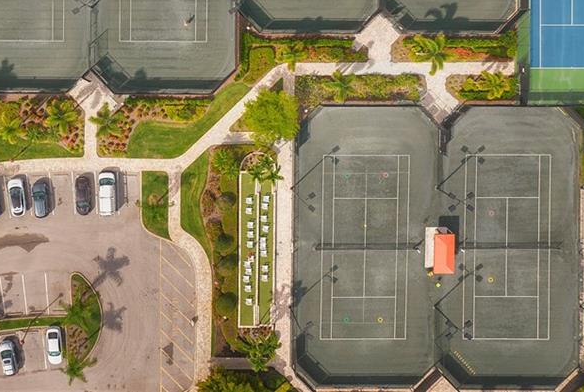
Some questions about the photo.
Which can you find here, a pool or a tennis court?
tennis court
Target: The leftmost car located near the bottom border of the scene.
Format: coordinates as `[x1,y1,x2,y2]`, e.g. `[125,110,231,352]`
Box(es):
[0,338,18,377]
